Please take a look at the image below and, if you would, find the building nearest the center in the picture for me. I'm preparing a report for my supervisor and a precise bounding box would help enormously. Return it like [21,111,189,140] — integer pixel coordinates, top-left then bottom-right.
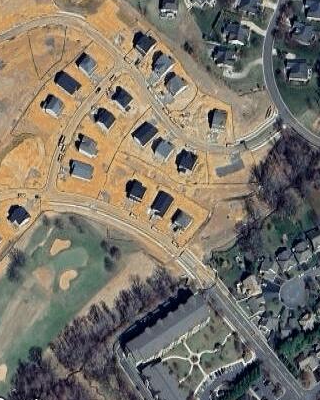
[151,190,175,218]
